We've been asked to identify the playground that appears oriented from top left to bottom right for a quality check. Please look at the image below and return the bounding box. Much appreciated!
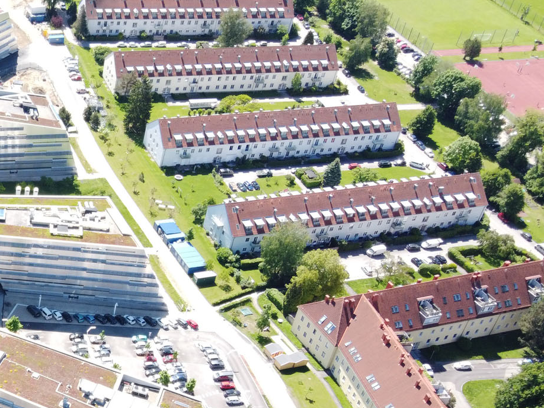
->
[234,305,284,337]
